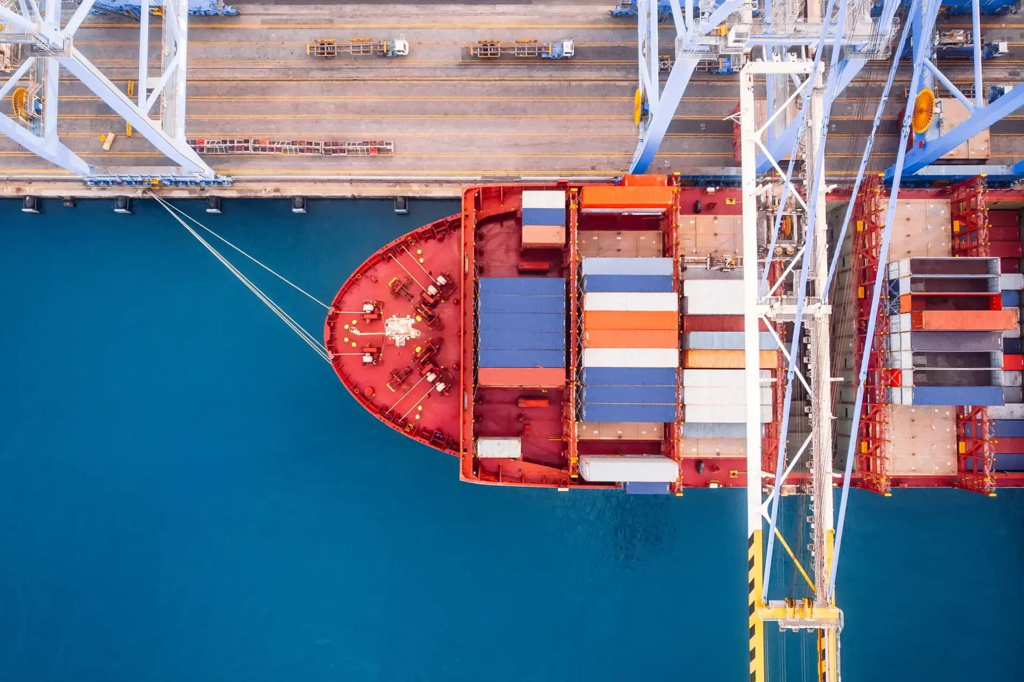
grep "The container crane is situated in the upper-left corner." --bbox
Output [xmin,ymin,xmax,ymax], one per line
[0,0,244,188]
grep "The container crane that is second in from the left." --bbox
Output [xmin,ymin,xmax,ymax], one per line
[596,0,937,682]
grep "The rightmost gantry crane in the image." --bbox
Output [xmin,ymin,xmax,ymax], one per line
[862,0,1024,185]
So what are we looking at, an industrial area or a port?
port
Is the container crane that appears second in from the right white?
Yes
